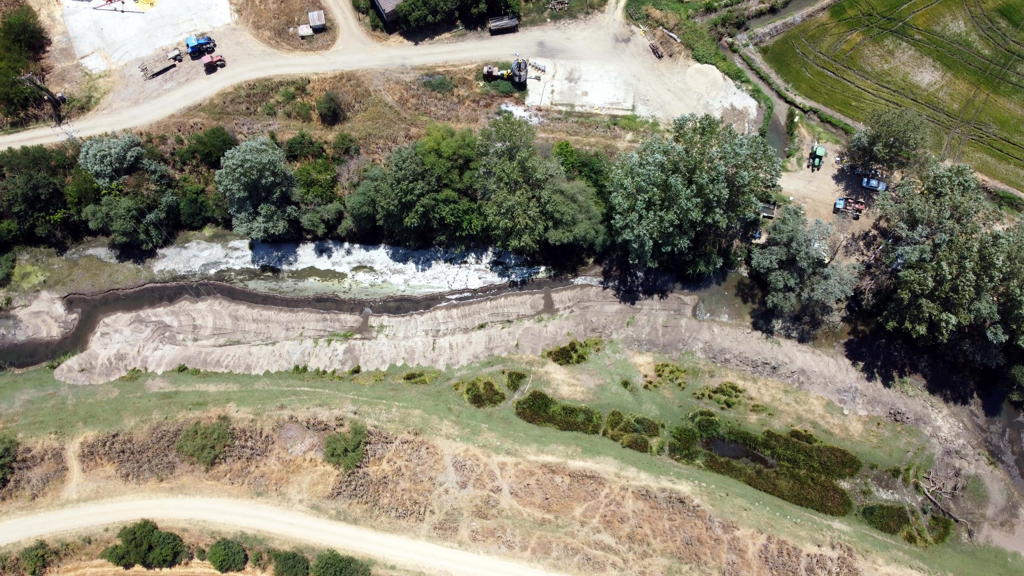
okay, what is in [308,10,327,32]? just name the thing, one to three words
shed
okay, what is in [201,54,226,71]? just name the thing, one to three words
work vehicle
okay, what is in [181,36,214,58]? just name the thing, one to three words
work vehicle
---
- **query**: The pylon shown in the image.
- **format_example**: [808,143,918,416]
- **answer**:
[58,122,86,148]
